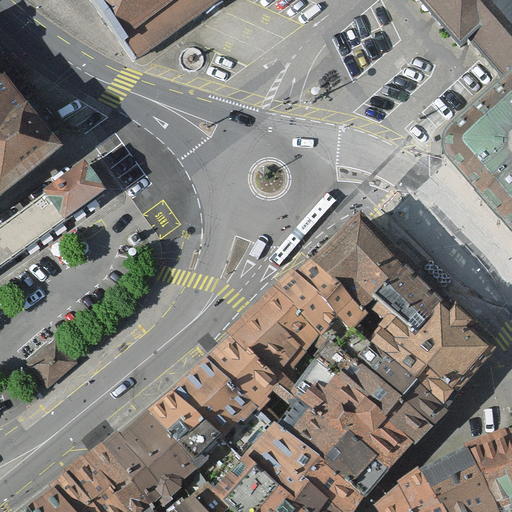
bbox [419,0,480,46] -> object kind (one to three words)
house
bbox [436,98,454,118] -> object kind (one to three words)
car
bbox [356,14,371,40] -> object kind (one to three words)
vehicle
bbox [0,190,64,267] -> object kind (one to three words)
building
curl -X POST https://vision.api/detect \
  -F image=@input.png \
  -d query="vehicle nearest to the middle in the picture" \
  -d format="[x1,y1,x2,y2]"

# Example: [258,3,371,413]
[248,234,269,260]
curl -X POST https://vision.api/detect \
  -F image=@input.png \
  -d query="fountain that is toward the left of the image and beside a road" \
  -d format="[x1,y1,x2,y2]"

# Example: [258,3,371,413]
[174,42,208,76]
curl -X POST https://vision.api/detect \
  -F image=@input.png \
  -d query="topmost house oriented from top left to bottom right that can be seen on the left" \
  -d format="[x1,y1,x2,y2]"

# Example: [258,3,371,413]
[94,0,134,58]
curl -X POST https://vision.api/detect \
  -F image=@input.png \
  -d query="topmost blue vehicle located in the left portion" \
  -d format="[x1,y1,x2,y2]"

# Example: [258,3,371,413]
[56,98,82,118]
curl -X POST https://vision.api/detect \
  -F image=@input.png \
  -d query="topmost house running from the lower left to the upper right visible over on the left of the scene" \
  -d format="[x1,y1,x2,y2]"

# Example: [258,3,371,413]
[129,0,224,60]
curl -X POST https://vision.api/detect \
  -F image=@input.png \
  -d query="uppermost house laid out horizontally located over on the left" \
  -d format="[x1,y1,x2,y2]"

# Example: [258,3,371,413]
[105,0,178,30]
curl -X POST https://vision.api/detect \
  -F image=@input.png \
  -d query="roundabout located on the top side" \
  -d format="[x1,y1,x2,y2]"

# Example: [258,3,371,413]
[248,157,292,201]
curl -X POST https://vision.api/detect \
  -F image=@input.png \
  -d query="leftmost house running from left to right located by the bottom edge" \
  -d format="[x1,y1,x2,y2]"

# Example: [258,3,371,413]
[21,482,84,512]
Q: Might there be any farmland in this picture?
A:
No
